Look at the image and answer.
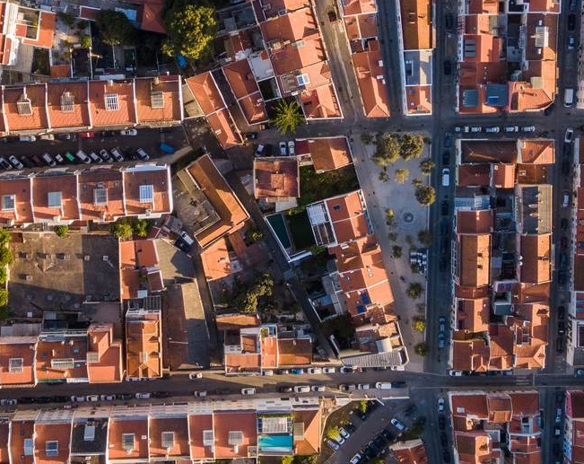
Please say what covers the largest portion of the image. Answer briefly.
buildings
